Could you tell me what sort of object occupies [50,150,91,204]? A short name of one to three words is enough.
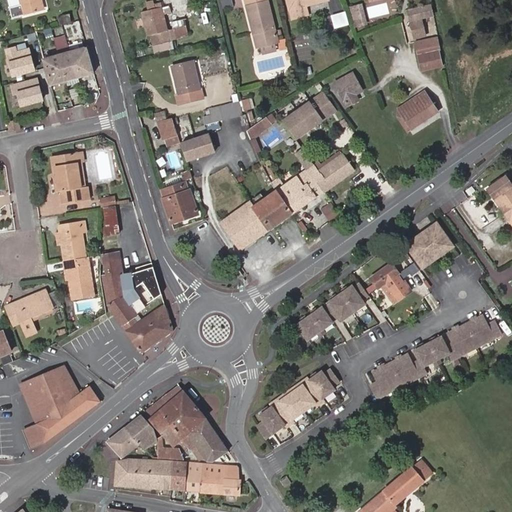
house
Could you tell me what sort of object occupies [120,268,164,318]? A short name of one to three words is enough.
building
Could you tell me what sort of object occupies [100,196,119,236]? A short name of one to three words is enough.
barn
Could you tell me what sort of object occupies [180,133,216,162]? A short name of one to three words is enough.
house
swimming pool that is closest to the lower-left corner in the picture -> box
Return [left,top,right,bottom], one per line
[74,298,102,314]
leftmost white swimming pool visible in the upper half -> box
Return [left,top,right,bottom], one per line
[95,152,112,181]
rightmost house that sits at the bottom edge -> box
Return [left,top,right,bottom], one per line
[350,458,433,512]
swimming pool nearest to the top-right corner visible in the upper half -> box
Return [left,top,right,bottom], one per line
[256,55,285,73]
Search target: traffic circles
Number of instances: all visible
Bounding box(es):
[178,291,254,368]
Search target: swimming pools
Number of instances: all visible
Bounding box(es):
[260,130,283,148]
[166,150,182,170]
[95,152,112,181]
[256,55,285,73]
[74,298,102,314]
